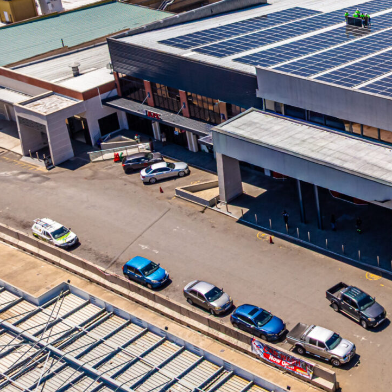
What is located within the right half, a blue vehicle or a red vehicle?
blue vehicle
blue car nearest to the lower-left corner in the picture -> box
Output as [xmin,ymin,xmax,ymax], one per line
[122,254,170,289]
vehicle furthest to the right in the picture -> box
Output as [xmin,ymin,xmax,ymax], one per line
[324,284,387,329]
